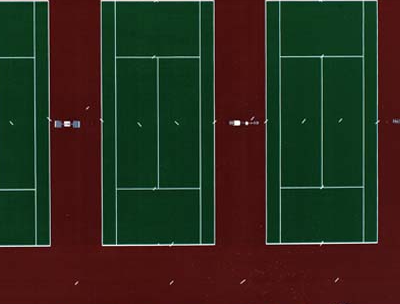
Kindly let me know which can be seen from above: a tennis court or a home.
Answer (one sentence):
The image shows a tennis court.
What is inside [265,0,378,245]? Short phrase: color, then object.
green tennis court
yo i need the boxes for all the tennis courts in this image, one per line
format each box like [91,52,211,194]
[265,0,378,245]
[0,0,51,248]
[101,0,216,247]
